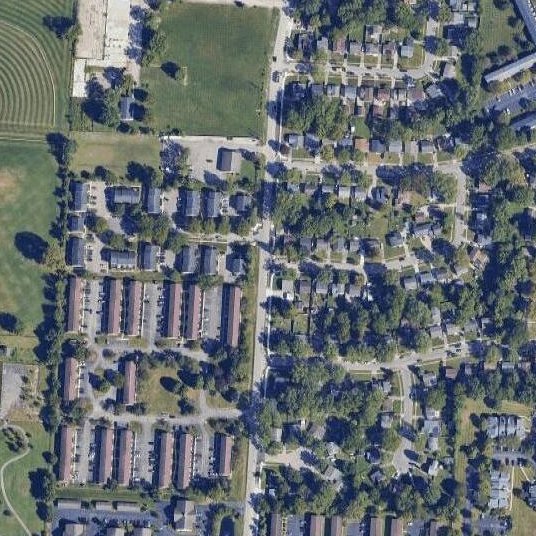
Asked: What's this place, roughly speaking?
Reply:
residential area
